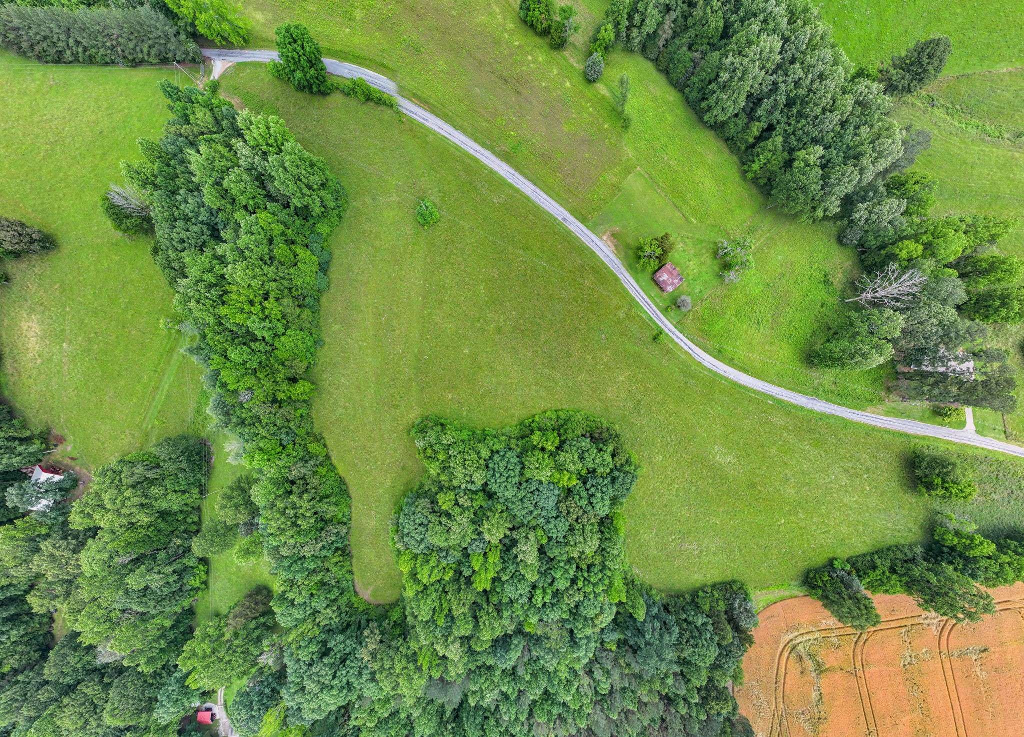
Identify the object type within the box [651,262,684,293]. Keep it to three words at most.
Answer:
barn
